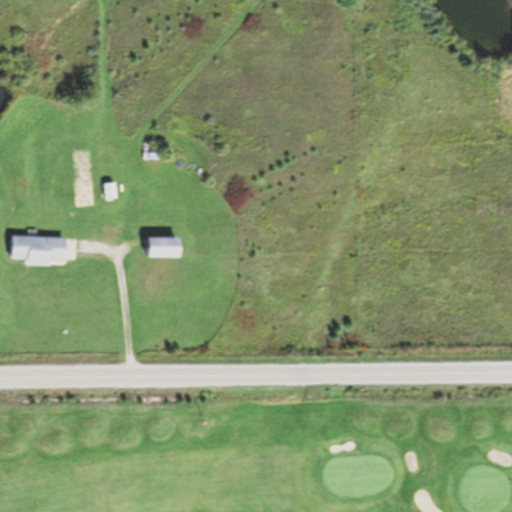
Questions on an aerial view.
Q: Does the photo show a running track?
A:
No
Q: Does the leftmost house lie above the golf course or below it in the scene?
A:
above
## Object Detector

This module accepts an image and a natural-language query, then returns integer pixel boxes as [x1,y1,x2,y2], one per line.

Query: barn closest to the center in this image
[149,237,183,258]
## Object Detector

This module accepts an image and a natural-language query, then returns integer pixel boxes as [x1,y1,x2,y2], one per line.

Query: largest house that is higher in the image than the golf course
[12,230,68,266]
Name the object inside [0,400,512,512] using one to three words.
golf course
